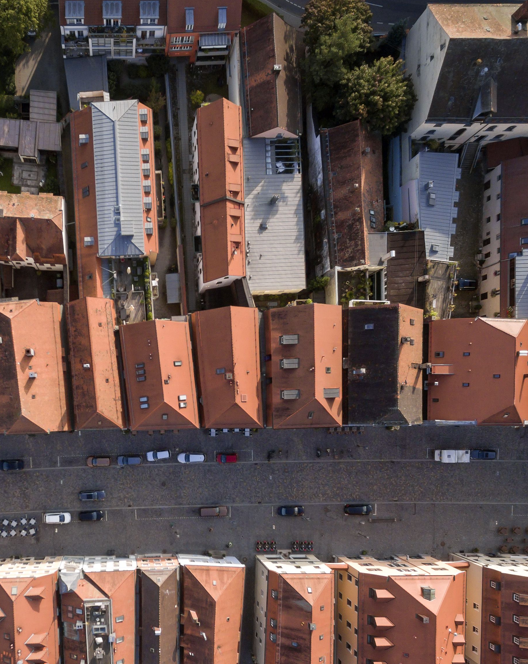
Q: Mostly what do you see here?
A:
buildings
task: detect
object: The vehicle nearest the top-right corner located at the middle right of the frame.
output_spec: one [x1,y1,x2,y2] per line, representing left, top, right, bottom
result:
[453,277,477,290]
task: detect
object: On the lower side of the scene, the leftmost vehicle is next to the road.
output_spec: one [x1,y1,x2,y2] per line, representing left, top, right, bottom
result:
[0,458,26,472]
